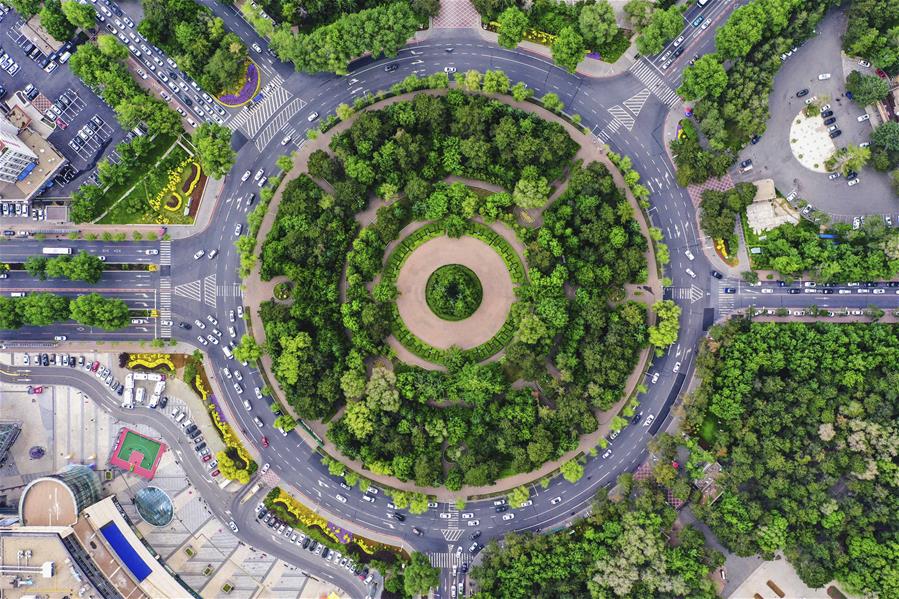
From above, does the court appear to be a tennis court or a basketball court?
basketball court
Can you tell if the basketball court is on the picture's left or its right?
left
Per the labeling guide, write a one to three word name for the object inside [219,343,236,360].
vehicle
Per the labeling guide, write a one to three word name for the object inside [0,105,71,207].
building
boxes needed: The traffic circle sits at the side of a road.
[200,38,708,546]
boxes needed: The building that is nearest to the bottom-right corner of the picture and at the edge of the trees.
[696,463,722,503]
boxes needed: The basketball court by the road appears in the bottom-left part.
[107,428,168,481]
